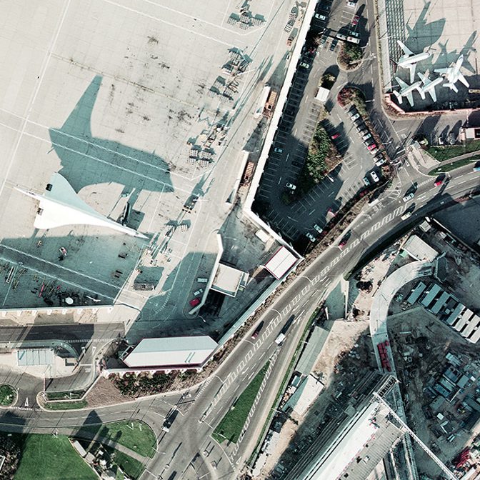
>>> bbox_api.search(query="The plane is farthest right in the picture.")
[436,56,469,90]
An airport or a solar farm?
airport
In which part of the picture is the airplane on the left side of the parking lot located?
left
